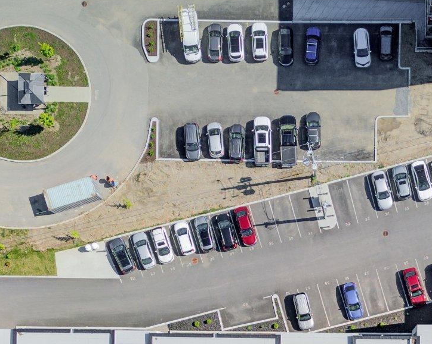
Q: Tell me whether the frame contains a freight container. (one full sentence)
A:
Yes, the picture does show a freight container.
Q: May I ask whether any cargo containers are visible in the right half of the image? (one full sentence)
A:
No, I can find no cargo container in the right half of the image.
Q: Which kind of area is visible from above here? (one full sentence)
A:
The picture captures a parking lot.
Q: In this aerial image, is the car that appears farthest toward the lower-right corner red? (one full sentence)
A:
Yes, the car that appears farthest toward the lower-right corner is indeed red.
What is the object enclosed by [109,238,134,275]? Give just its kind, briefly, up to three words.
car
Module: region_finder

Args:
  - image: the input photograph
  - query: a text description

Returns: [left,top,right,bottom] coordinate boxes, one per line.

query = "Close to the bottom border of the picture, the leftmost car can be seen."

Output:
[292,292,313,329]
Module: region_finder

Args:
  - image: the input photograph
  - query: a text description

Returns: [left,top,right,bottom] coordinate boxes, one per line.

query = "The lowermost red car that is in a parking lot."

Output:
[403,267,425,306]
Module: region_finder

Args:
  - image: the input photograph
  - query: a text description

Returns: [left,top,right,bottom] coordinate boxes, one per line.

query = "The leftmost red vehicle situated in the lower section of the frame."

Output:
[235,207,257,246]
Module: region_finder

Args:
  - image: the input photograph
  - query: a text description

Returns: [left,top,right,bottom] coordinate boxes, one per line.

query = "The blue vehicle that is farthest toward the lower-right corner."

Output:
[340,281,361,321]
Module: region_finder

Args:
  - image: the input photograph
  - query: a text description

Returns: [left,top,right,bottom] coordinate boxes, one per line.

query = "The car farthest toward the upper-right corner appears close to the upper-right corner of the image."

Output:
[376,21,395,64]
